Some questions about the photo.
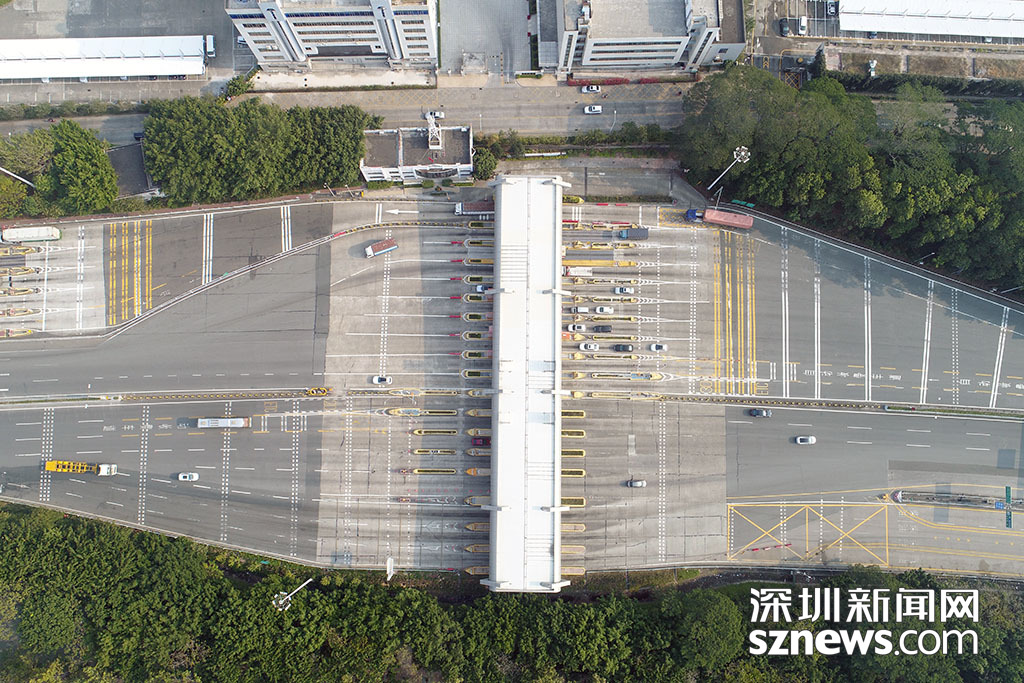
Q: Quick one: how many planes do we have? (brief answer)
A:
0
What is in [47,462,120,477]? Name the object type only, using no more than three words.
vehicle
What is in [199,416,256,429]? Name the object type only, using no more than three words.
vehicle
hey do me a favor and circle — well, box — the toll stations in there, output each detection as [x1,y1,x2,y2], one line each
[482,175,572,593]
